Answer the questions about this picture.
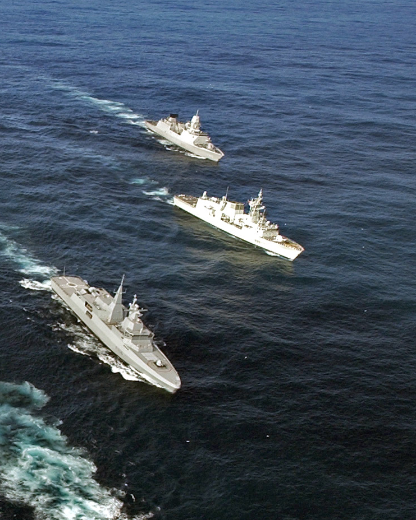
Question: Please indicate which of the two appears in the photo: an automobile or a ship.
ship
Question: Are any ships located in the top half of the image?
Yes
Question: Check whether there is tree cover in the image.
No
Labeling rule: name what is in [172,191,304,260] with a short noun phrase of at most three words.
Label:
ship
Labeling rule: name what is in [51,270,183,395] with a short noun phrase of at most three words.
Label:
ship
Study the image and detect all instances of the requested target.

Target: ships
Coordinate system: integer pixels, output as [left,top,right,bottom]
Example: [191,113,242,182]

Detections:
[51,270,183,395]
[141,112,225,163]
[172,191,304,260]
